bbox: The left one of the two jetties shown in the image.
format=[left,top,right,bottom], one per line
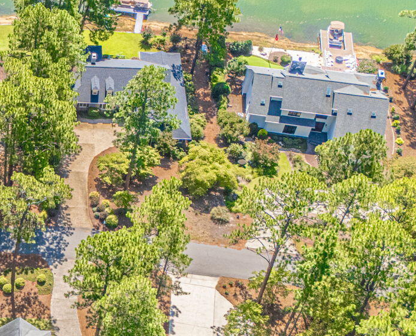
[109,6,150,33]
